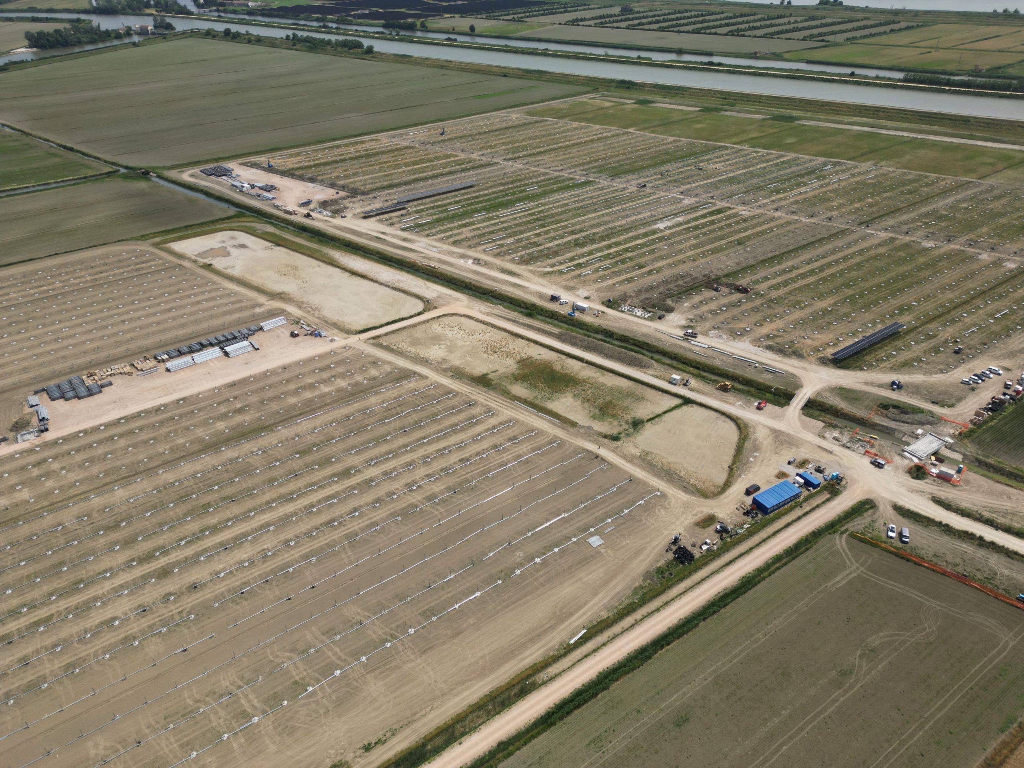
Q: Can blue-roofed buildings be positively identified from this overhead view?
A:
Yes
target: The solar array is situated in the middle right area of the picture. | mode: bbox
[831,321,906,360]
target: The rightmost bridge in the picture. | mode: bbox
[903,432,949,462]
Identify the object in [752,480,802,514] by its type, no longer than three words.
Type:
building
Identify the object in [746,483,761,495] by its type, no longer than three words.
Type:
vehicle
